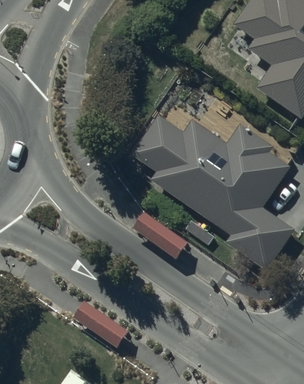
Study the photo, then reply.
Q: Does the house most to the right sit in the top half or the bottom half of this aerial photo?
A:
top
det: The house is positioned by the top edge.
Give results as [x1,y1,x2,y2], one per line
[234,0,304,120]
